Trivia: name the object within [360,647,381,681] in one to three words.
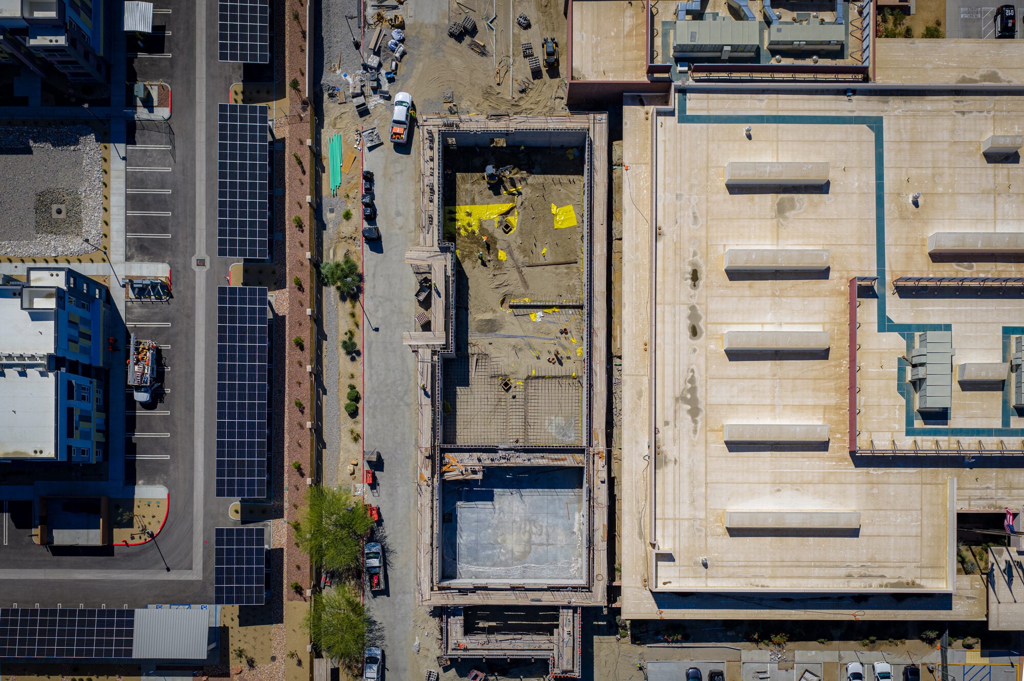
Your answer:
truck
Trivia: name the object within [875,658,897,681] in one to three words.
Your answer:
car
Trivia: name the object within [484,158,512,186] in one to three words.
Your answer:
work vehicle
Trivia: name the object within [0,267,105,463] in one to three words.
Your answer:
building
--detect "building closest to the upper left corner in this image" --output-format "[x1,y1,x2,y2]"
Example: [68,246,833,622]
[0,0,106,89]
